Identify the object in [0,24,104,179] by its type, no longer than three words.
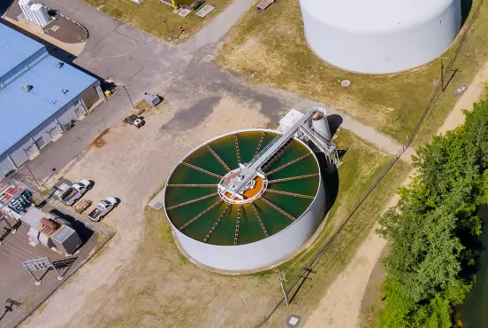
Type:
building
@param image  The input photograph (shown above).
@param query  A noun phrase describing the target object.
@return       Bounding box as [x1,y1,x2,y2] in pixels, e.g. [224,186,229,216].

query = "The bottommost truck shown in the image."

[86,193,122,220]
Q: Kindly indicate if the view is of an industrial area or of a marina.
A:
industrial area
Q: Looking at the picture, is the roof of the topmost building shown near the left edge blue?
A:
Yes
